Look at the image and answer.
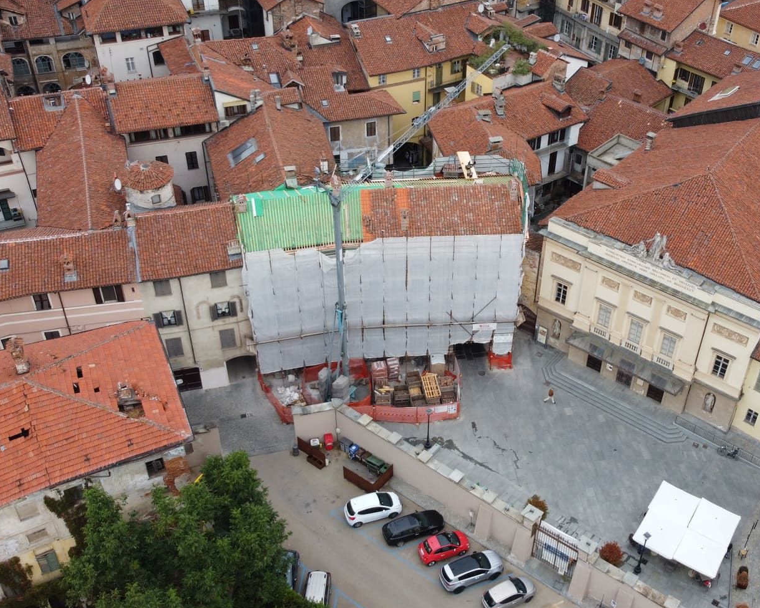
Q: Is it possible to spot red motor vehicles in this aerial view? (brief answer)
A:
Yes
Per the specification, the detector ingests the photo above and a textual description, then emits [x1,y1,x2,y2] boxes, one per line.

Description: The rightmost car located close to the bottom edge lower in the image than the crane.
[483,578,534,608]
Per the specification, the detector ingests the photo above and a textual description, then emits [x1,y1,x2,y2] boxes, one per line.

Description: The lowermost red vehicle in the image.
[420,532,466,565]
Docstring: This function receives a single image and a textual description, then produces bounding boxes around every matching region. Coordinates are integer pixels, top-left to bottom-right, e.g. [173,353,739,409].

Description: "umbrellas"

[633,510,684,561]
[672,527,724,580]
[683,497,739,546]
[649,482,699,526]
